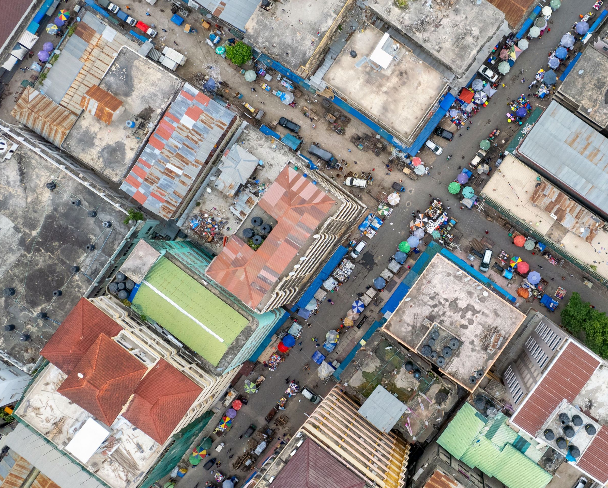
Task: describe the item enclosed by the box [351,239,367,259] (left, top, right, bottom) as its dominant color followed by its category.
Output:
white car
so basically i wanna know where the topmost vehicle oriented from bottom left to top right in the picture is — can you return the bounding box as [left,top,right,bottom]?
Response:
[468,149,486,169]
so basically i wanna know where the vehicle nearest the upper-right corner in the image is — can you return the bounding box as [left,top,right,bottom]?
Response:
[479,67,499,83]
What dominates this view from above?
buildings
